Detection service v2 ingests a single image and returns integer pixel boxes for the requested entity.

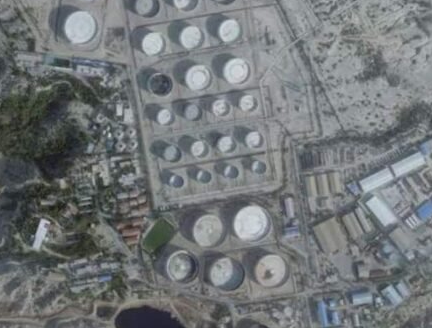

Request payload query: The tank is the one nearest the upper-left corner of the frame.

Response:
[64,11,98,44]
